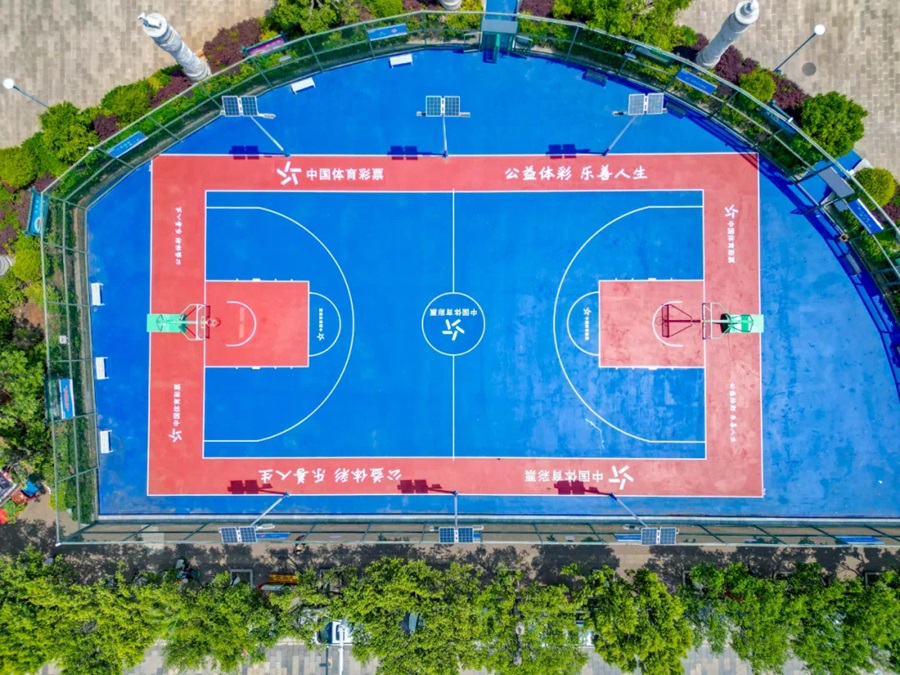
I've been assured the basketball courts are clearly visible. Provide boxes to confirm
[87,47,900,515]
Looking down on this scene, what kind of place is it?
sports ground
